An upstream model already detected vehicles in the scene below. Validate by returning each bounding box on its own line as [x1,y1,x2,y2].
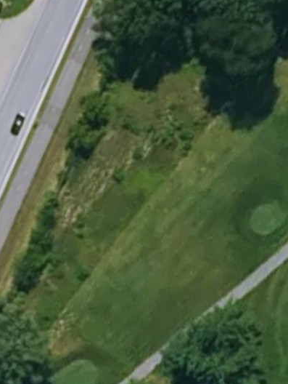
[9,111,25,135]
